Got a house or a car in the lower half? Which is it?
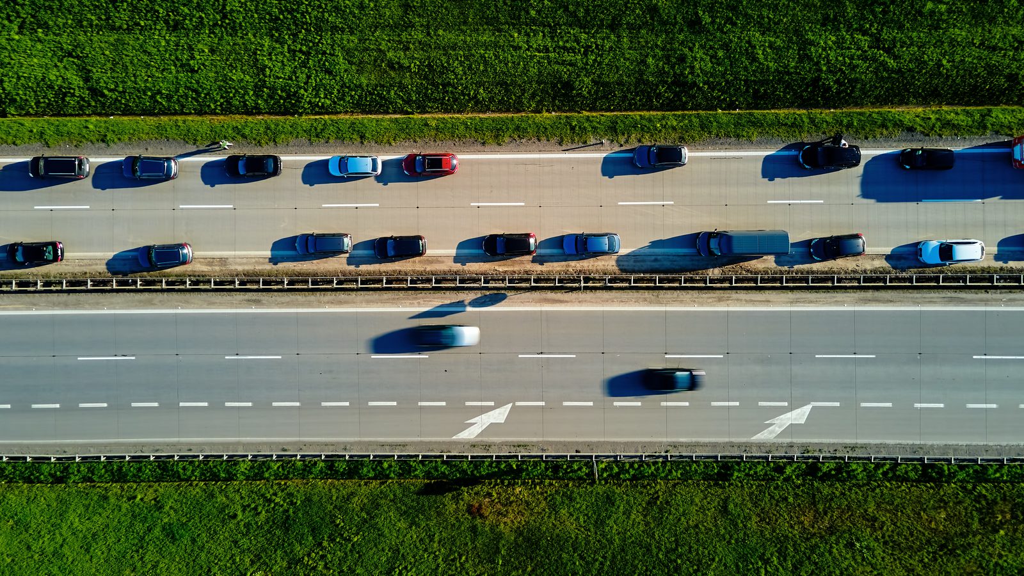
car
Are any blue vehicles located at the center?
Yes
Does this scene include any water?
No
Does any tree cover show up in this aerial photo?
No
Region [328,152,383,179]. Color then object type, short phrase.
blue car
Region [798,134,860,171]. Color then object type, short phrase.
black car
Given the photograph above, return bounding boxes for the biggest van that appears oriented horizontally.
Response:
[693,227,790,260]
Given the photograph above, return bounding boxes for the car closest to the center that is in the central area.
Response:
[482,231,537,258]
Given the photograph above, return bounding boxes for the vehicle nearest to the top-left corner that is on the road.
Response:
[27,153,92,181]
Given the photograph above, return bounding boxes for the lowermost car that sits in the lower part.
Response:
[643,367,704,394]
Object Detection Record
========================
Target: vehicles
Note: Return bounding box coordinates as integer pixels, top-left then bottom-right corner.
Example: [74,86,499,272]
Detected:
[633,142,688,169]
[1008,132,1024,171]
[482,231,537,258]
[27,153,92,181]
[225,152,283,178]
[693,227,790,260]
[6,239,67,267]
[136,242,195,269]
[121,153,181,181]
[295,231,354,257]
[374,234,427,260]
[808,234,866,262]
[916,237,984,265]
[420,323,480,350]
[402,150,459,178]
[328,152,383,179]
[643,367,704,394]
[899,145,958,172]
[563,231,621,257]
[798,134,860,171]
